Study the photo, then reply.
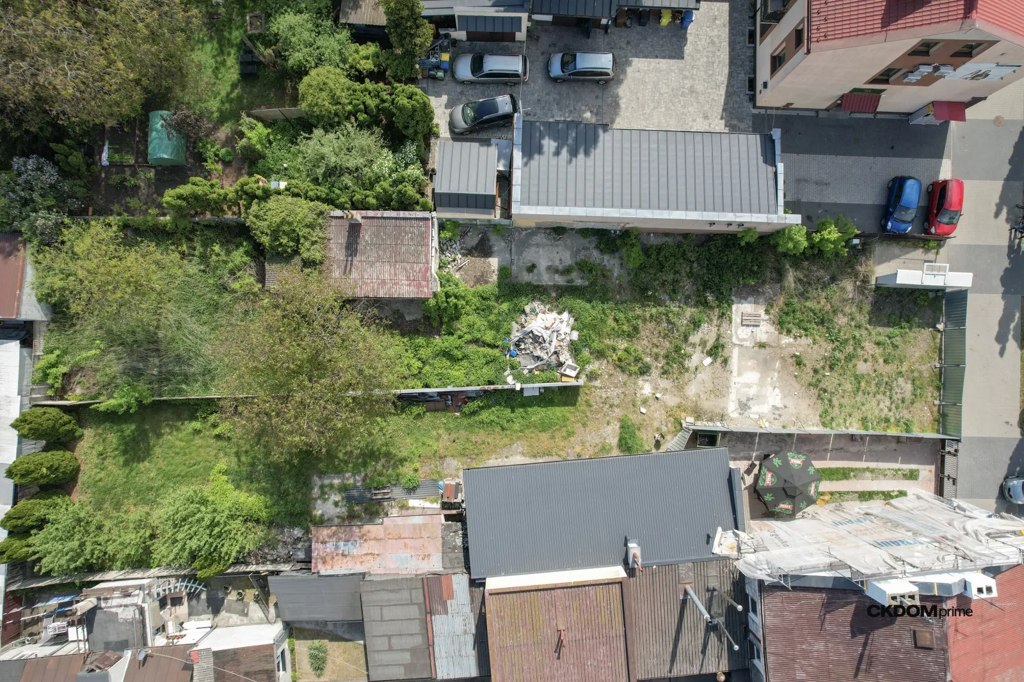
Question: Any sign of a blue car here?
Yes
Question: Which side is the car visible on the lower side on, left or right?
right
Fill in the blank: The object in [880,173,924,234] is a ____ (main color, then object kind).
blue car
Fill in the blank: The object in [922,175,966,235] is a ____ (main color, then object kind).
red car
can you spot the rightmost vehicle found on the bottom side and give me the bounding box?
[1000,473,1024,504]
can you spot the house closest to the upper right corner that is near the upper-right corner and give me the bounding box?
[746,0,1024,134]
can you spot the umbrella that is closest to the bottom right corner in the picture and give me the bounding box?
[756,450,820,516]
